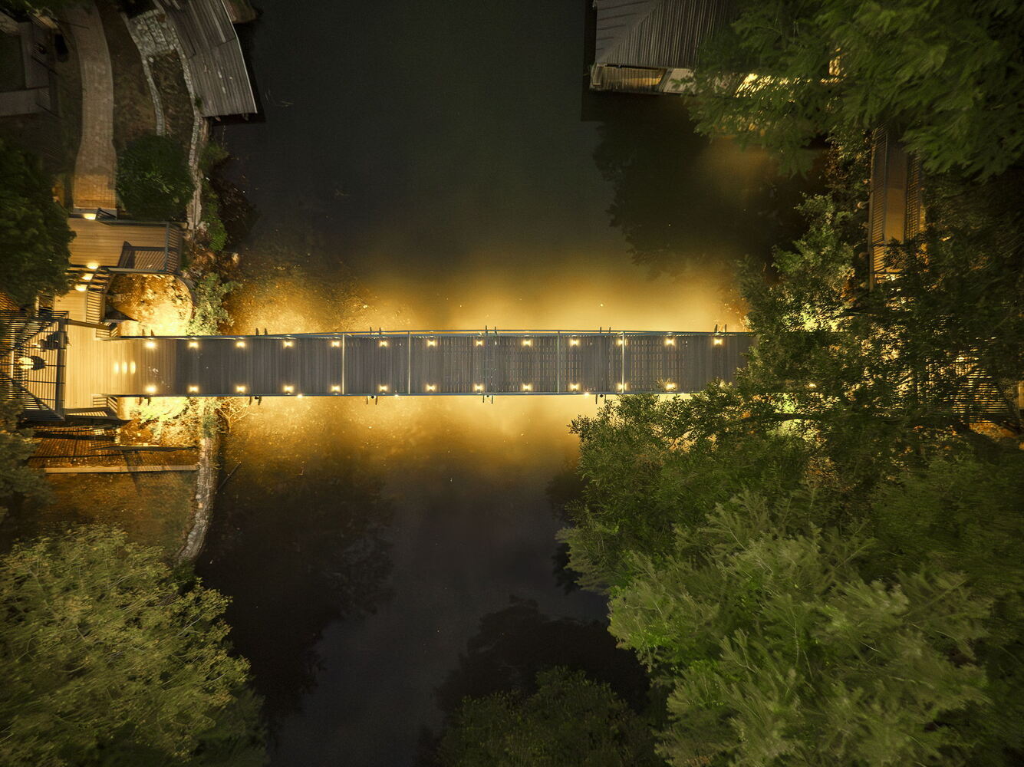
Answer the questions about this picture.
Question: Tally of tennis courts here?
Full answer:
The photo contains no tennis courts.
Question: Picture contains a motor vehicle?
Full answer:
No, the photo shows no motor vehicle.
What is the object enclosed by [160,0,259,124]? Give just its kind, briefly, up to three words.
pier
